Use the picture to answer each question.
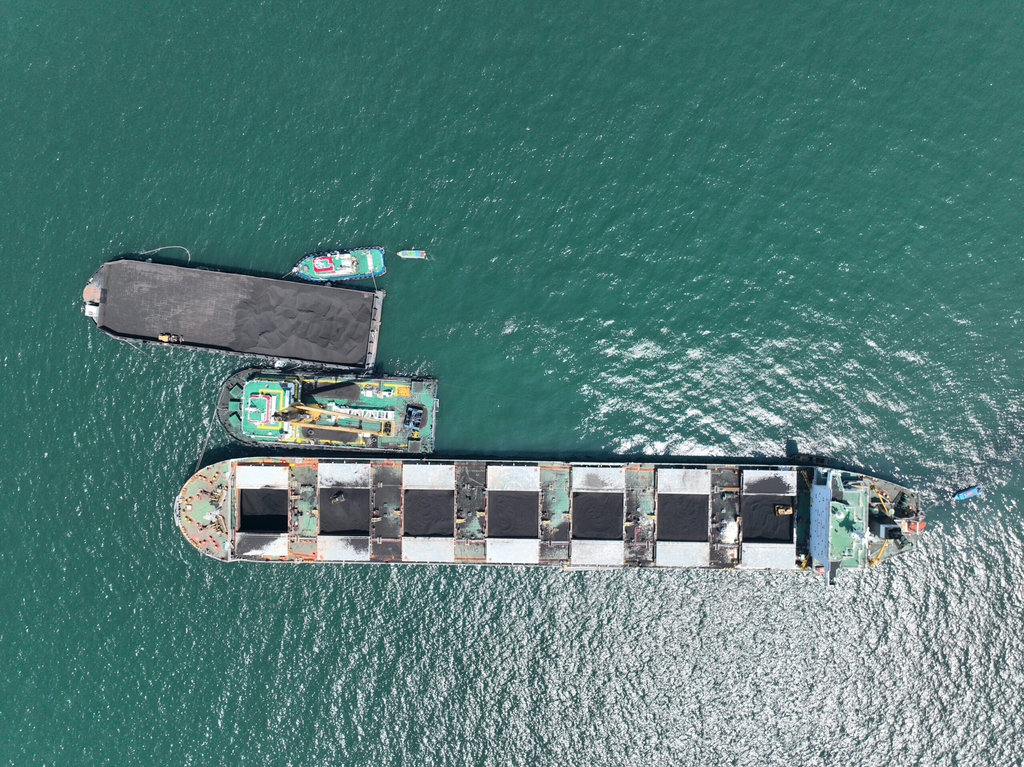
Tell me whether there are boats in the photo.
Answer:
Yes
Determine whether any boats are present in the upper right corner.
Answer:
No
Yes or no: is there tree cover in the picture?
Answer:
No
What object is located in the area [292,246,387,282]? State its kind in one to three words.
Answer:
boat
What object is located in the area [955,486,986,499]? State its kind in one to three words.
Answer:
boat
